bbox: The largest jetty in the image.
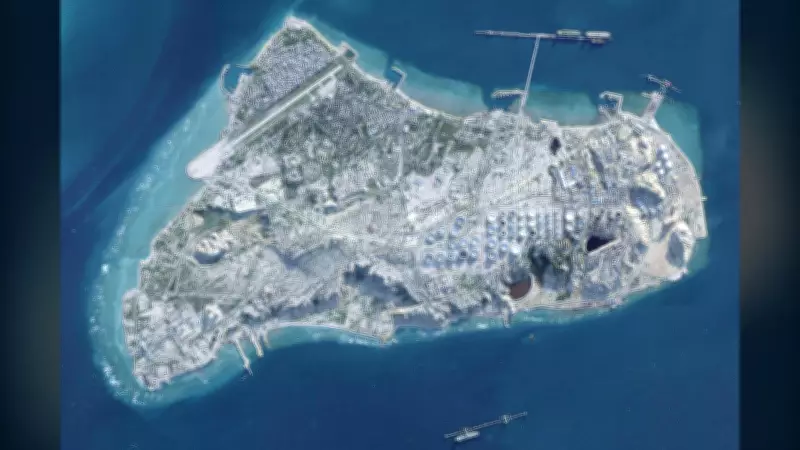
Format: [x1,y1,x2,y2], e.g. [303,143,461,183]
[474,30,611,115]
